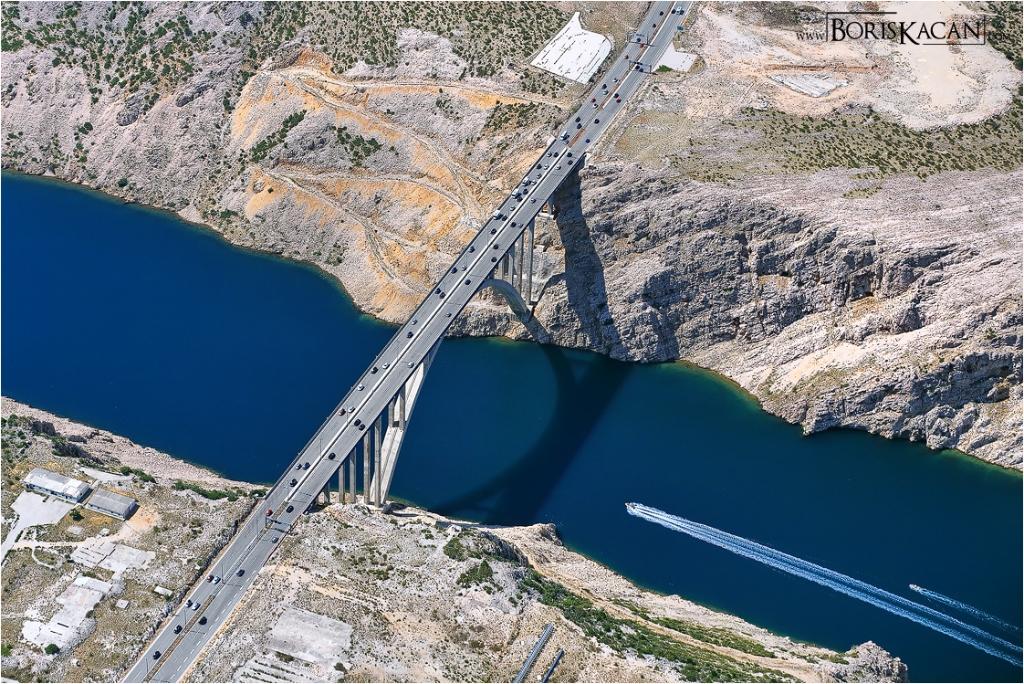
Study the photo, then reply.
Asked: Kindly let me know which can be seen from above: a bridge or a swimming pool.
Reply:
bridge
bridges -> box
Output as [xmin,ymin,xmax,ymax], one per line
[262,132,599,513]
